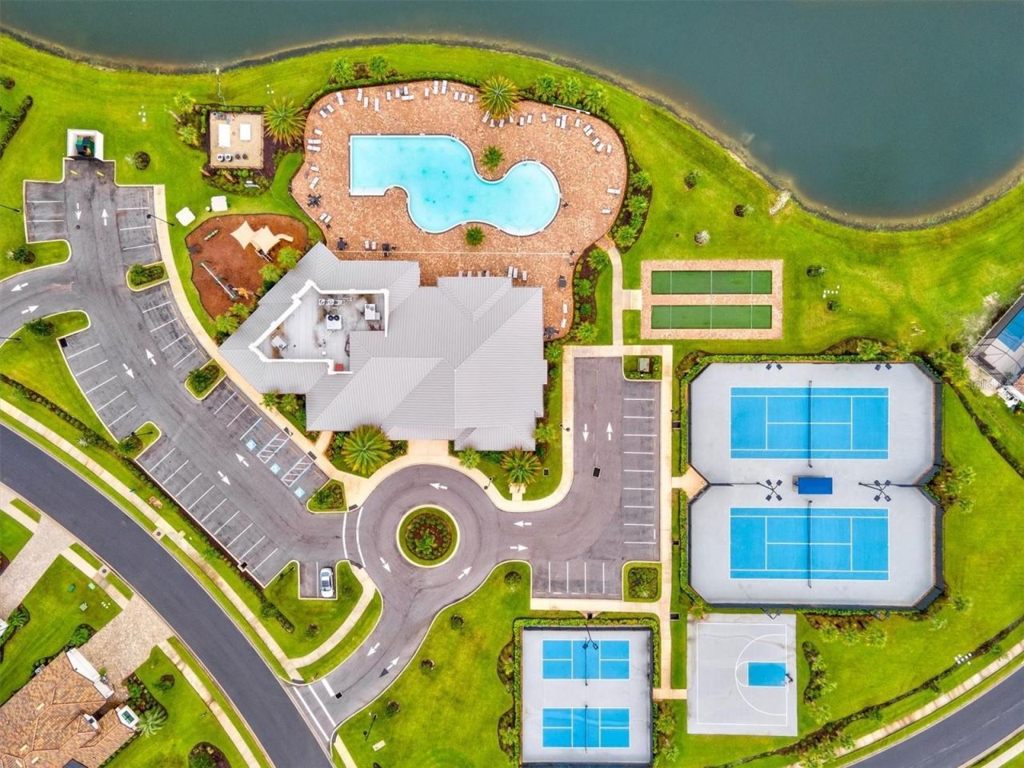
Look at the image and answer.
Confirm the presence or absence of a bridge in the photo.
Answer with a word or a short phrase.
No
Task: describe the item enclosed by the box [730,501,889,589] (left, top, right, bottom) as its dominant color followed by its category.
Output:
blue tennis court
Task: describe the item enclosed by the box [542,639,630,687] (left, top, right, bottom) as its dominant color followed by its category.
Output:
blue sports court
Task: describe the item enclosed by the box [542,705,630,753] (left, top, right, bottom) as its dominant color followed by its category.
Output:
blue sports court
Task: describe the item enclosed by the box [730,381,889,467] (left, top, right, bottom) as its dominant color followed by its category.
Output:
blue tennis court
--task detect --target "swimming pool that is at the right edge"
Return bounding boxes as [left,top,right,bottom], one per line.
[996,310,1024,353]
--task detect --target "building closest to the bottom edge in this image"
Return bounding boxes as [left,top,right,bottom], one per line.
[0,650,140,768]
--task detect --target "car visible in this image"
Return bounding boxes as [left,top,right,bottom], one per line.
[318,567,333,598]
